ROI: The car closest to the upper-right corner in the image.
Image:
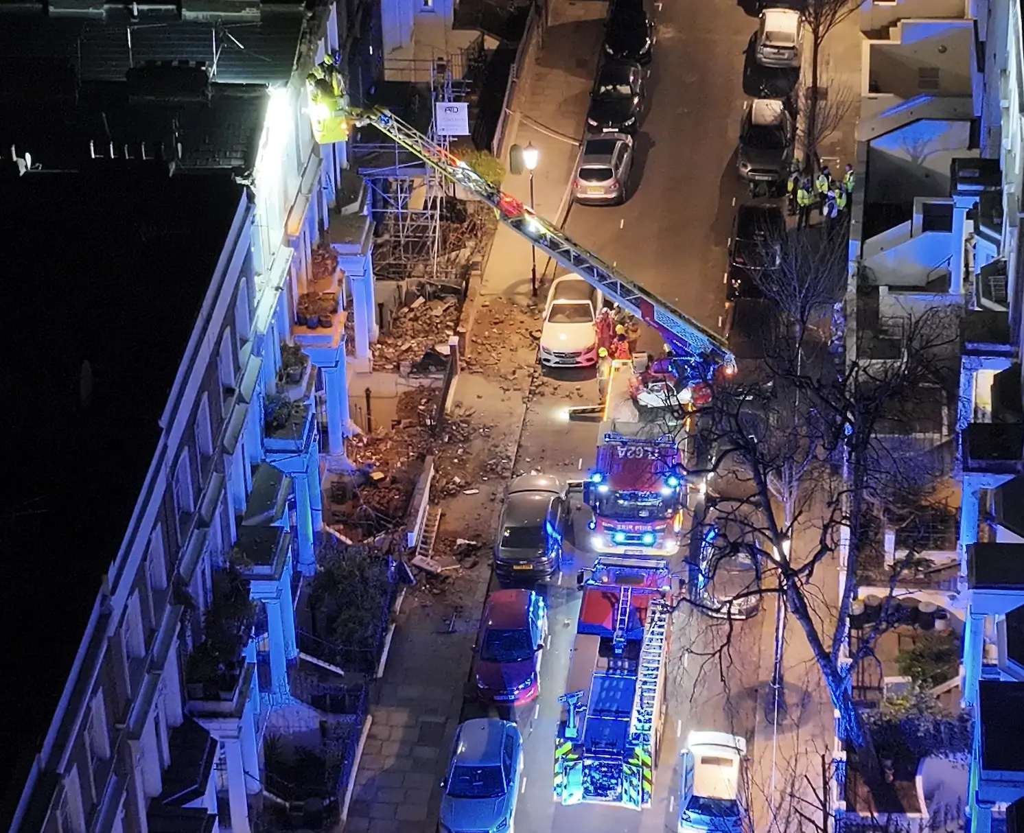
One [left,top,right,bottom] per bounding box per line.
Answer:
[755,0,809,63]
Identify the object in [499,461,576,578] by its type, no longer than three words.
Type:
car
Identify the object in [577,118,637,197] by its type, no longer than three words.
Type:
car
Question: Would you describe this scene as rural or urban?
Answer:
urban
